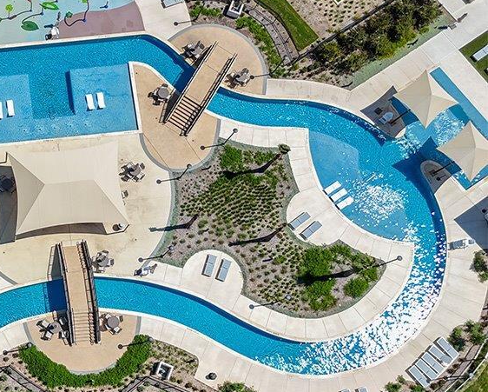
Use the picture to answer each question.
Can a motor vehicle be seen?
No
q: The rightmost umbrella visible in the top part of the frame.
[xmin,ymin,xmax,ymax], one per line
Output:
[429,121,488,178]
